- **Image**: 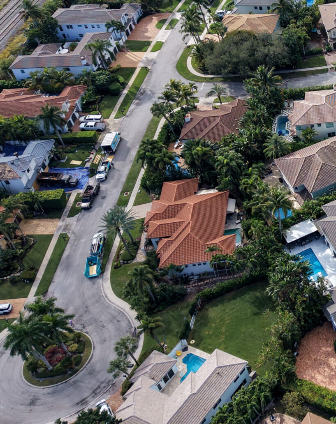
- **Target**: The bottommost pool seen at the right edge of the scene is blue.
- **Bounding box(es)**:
[293,246,329,282]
